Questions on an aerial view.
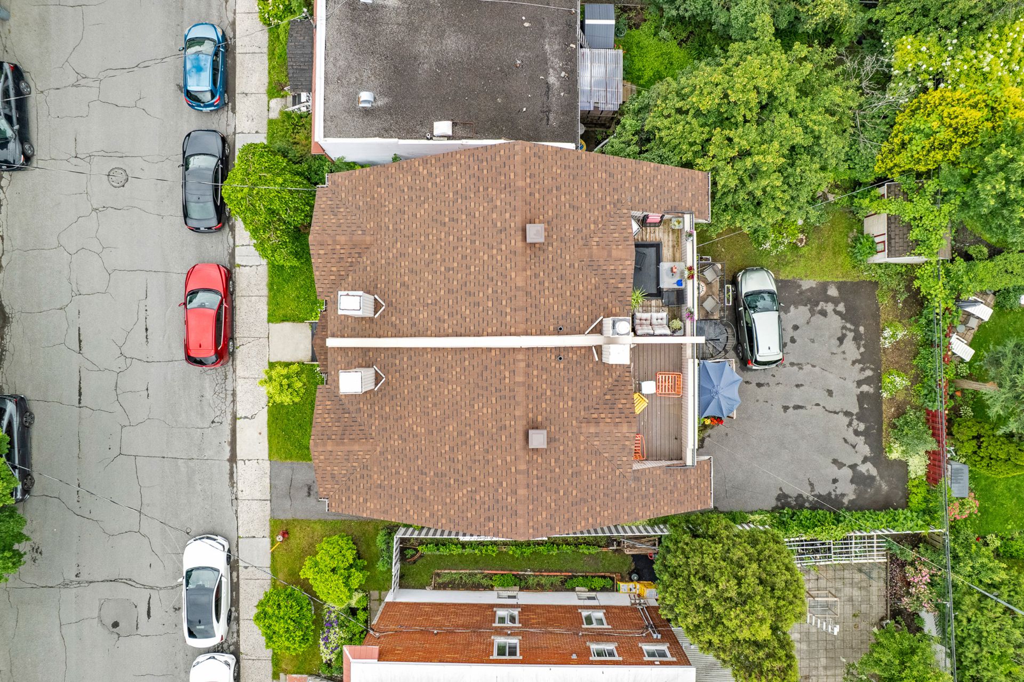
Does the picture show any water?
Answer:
No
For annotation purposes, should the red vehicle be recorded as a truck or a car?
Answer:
car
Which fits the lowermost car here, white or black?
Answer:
white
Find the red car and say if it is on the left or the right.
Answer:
left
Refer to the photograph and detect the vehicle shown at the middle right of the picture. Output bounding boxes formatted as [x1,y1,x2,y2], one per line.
[728,265,784,370]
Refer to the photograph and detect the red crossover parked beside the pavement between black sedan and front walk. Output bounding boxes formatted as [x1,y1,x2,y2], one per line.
[178,262,237,369]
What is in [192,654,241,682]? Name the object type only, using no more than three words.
car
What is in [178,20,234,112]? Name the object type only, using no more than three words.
car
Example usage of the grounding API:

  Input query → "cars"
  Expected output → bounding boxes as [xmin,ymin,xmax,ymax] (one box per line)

[179,127,235,233]
[0,395,38,500]
[728,265,784,370]
[179,537,236,651]
[178,20,234,112]
[0,61,38,168]
[192,654,241,682]
[178,262,237,369]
